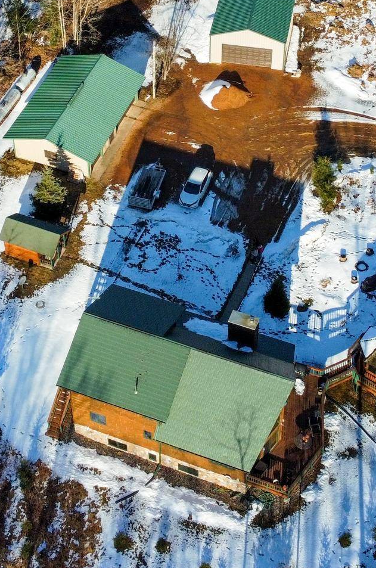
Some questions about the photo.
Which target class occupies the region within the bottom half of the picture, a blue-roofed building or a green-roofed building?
green-roofed building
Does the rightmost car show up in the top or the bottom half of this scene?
top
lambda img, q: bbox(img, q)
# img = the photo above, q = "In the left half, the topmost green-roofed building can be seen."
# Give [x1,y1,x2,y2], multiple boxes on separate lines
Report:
[2,54,146,178]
